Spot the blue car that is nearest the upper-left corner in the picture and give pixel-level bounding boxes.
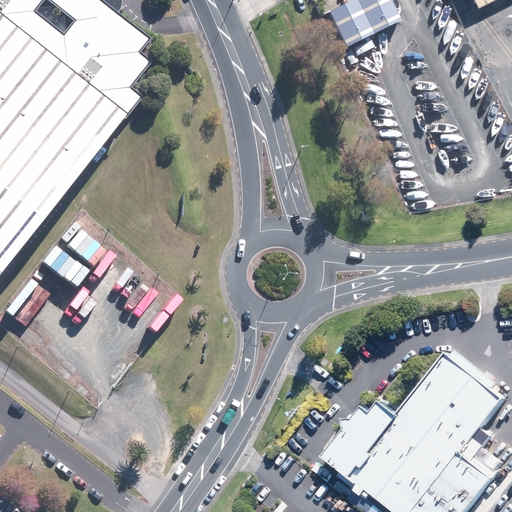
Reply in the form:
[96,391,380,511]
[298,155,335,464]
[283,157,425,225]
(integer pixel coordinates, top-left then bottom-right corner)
[94,146,106,162]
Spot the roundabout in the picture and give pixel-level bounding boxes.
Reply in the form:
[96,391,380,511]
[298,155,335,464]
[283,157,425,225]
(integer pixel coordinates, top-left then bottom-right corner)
[248,245,305,302]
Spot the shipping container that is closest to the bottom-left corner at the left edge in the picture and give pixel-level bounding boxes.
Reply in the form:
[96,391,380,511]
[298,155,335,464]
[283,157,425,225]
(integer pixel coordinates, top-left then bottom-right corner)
[6,278,38,316]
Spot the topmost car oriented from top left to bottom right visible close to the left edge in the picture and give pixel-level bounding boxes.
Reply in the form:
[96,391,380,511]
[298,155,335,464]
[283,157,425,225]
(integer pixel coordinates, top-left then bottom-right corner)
[9,402,25,416]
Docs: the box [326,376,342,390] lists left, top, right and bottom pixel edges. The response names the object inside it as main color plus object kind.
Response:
blue car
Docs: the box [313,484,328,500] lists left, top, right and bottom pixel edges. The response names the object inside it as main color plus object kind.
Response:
white vehicle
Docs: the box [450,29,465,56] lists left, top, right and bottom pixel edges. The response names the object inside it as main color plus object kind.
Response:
white boat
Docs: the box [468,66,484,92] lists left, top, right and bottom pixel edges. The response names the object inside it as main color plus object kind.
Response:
white boat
